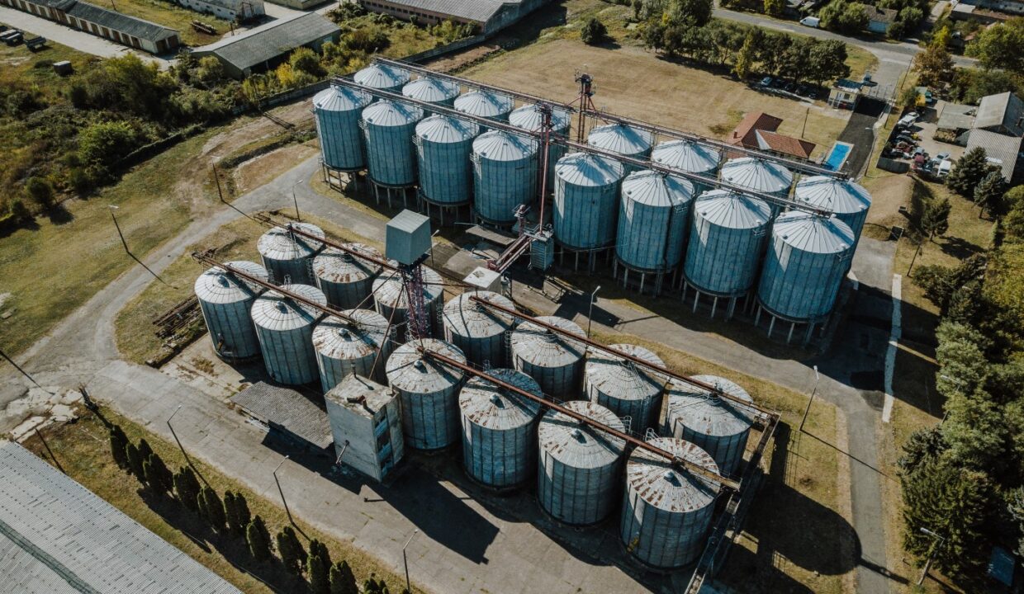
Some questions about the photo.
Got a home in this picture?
Yes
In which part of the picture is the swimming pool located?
top right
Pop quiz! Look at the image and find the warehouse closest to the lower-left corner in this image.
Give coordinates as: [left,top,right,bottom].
[0,440,245,594]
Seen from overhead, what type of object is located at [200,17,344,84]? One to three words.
shed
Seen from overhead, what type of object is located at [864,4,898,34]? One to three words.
house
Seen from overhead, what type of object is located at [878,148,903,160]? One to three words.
vehicle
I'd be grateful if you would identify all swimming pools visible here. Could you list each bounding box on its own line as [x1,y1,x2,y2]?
[824,139,854,168]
